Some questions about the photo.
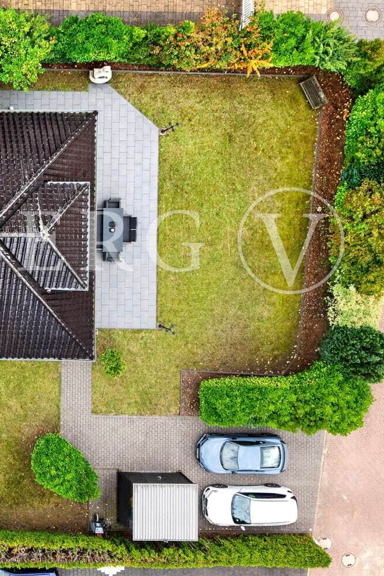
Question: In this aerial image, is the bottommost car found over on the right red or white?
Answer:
white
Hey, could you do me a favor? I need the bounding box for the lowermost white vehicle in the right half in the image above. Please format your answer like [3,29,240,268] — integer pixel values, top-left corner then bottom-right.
[201,485,298,531]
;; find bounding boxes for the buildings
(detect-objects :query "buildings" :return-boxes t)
[117,472,198,544]
[0,107,100,362]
